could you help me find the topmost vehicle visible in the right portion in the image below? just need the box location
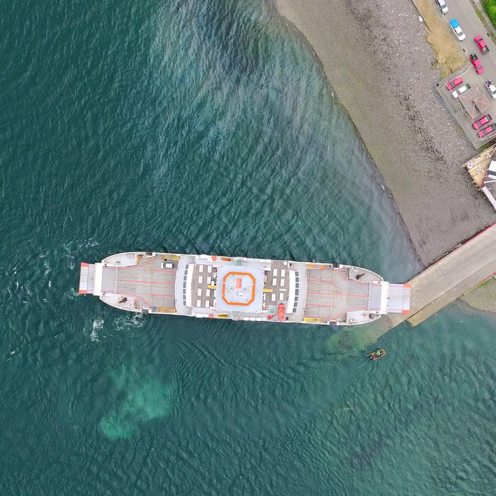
[435,0,448,13]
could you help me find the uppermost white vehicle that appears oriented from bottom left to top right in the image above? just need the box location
[451,82,471,98]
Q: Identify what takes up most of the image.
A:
water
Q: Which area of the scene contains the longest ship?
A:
center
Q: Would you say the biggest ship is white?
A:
Yes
